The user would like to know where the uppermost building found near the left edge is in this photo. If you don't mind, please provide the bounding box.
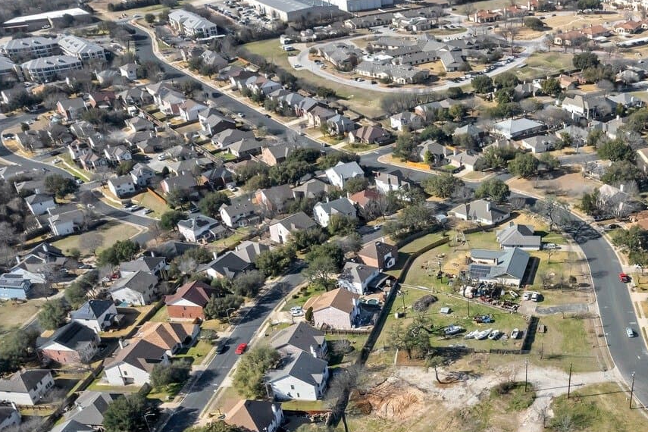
[4,8,94,33]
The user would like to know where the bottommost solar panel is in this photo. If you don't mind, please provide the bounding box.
[60,325,88,346]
